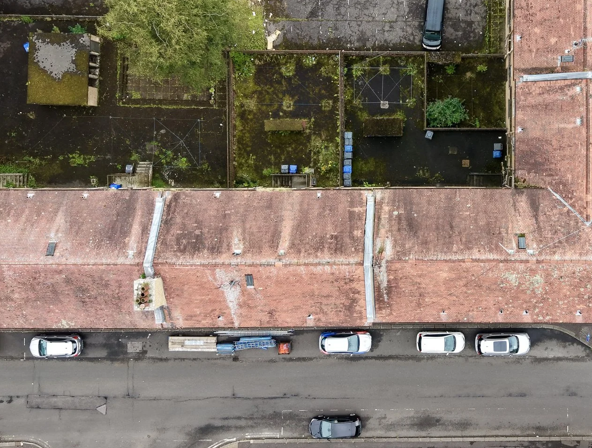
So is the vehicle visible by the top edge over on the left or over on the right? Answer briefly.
right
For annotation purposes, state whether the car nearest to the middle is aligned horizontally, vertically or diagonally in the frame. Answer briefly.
horizontally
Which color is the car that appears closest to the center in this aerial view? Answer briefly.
white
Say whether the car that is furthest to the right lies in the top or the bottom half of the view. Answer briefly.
bottom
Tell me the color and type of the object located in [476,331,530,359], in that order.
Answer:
white car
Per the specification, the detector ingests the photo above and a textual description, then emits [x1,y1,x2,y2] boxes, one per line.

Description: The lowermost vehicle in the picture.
[310,412,362,441]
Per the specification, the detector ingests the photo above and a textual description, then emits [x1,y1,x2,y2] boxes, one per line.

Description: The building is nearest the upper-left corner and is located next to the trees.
[27,33,108,105]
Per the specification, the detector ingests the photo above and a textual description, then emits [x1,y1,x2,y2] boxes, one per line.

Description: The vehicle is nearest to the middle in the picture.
[319,330,371,356]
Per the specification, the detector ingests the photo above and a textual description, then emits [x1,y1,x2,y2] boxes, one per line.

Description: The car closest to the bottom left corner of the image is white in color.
[31,333,85,360]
